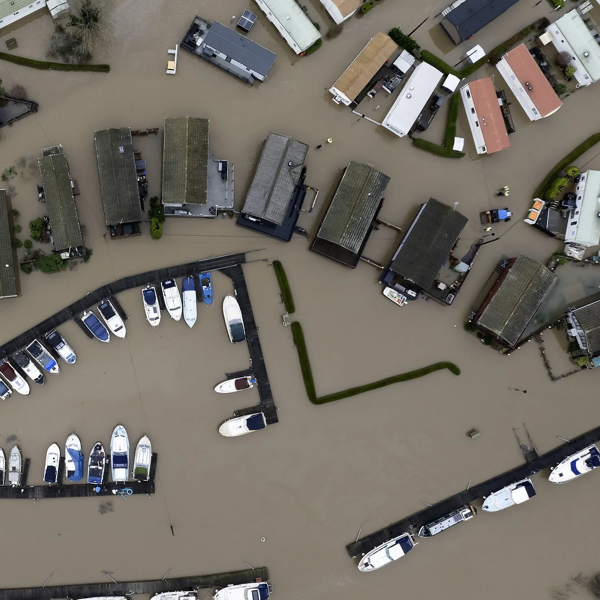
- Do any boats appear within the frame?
Yes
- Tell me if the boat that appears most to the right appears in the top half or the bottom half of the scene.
bottom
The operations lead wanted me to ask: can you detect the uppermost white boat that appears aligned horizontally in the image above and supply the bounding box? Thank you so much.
[215,374,255,392]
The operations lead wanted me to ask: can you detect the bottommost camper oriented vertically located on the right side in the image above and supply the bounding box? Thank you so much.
[566,170,600,244]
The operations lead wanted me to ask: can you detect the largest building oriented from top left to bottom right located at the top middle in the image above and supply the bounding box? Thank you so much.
[203,20,277,81]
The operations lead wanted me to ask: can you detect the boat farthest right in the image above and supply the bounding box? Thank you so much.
[549,448,600,483]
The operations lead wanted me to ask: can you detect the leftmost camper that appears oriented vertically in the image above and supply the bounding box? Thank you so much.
[463,77,510,156]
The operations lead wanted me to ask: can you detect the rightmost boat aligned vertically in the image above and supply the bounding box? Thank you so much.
[222,293,245,342]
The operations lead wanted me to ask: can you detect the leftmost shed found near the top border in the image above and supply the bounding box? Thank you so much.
[44,0,69,23]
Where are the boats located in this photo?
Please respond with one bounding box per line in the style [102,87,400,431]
[45,330,74,363]
[88,443,105,484]
[82,310,109,342]
[43,443,60,486]
[219,410,269,435]
[15,350,45,384]
[65,433,84,485]
[549,448,600,483]
[133,435,152,484]
[359,530,419,570]
[0,359,28,394]
[222,293,245,342]
[211,580,274,600]
[7,446,23,488]
[0,374,13,398]
[143,285,160,326]
[0,448,6,485]
[162,279,183,320]
[384,287,408,306]
[181,279,196,328]
[215,374,255,392]
[27,340,59,374]
[98,298,125,338]
[111,425,129,485]
[481,478,535,511]
[294,227,307,235]
[415,505,477,537]
[199,273,214,305]
[151,590,197,600]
